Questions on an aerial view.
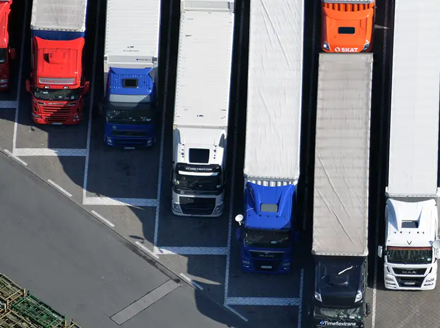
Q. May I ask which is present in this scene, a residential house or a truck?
truck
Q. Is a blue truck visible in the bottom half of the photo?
Yes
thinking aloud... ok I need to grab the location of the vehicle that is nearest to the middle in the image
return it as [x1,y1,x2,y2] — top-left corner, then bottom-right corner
[166,128,231,215]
